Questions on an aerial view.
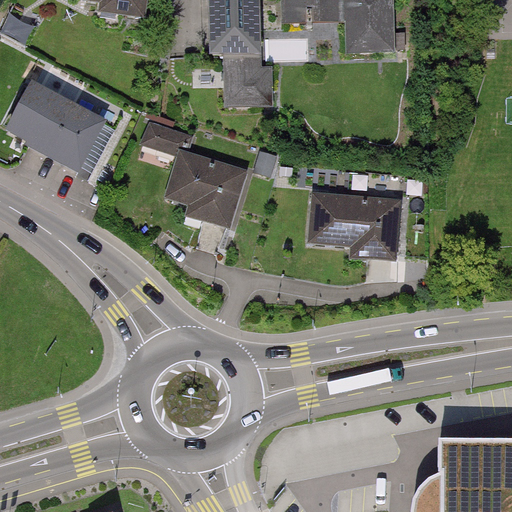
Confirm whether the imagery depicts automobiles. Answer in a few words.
Yes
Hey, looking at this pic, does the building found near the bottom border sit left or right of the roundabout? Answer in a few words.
to the right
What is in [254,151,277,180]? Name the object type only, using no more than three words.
shed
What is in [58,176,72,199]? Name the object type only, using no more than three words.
car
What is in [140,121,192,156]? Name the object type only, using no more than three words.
house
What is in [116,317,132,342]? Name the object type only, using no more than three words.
car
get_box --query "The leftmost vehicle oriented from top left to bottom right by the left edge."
[17,215,39,234]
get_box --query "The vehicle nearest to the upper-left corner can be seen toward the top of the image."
[38,157,54,178]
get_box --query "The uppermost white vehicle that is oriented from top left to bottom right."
[164,242,186,262]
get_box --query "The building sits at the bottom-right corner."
[410,437,512,512]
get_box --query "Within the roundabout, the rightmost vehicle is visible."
[240,410,262,428]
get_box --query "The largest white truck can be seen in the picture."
[326,364,406,395]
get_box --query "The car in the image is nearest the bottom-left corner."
[130,400,143,424]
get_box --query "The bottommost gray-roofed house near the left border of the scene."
[6,79,106,174]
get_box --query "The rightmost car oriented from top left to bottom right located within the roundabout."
[220,357,238,379]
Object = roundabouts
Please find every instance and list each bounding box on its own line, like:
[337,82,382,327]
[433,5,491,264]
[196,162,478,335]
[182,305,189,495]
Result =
[118,326,264,473]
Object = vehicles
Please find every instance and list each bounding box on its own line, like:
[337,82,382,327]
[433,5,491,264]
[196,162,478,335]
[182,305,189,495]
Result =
[326,364,406,395]
[220,357,238,379]
[141,282,165,305]
[38,157,54,178]
[77,233,103,254]
[58,176,72,199]
[184,438,206,450]
[240,410,262,428]
[375,475,386,503]
[384,407,402,426]
[414,326,438,338]
[164,242,186,262]
[130,400,143,424]
[88,277,110,300]
[266,346,291,358]
[116,317,132,342]
[17,215,39,234]
[414,401,438,425]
